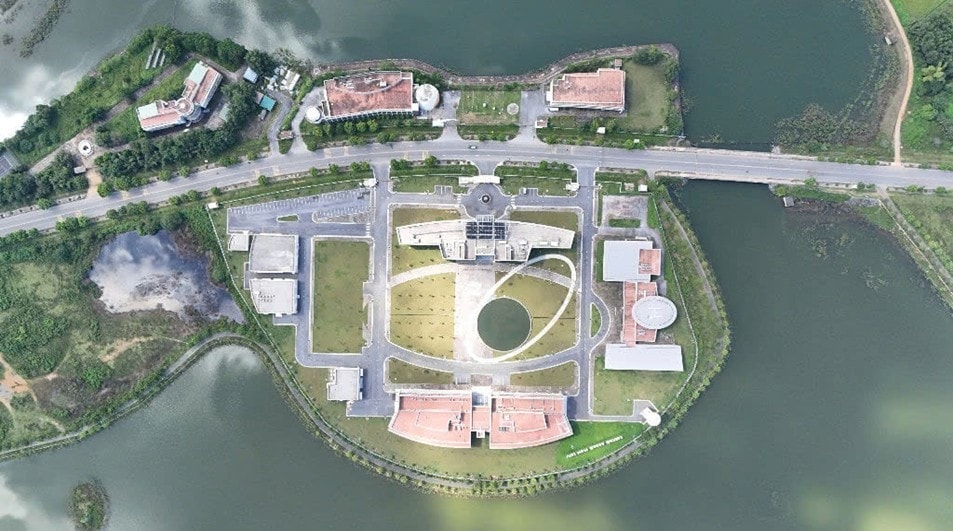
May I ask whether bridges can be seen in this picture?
Yes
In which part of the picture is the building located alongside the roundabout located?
center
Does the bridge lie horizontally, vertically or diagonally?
horizontally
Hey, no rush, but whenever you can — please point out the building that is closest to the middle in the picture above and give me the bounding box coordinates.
[396,215,575,261]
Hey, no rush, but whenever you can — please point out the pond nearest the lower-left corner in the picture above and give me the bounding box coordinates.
[90,228,247,324]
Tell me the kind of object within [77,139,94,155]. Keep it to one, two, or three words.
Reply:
fountain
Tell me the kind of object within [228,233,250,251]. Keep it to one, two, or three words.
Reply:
building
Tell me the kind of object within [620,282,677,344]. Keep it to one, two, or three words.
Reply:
building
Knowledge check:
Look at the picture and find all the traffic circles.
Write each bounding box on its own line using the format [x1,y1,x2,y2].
[467,182,504,216]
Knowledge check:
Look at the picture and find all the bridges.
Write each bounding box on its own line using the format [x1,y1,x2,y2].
[690,146,772,184]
